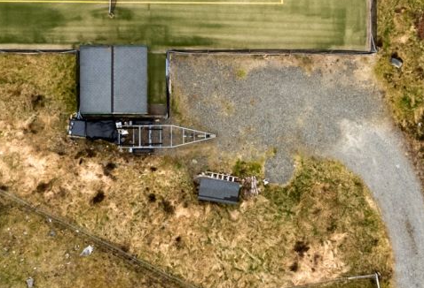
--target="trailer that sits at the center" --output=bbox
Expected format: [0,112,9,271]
[119,120,218,153]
